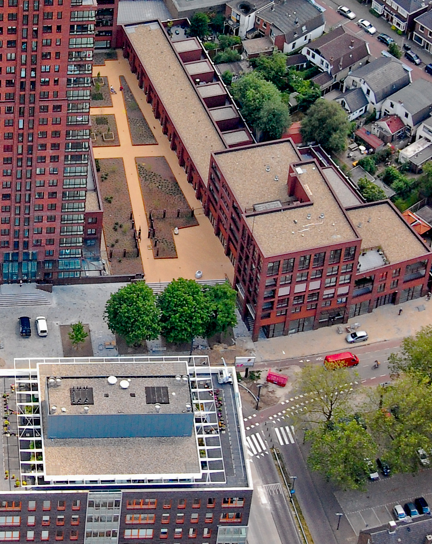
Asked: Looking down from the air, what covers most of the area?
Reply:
buildings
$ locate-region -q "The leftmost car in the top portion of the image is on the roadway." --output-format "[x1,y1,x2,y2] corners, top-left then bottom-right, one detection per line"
[336,7,357,21]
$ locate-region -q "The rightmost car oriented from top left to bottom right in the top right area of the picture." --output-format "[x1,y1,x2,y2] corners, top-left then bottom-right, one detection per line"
[403,50,424,66]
